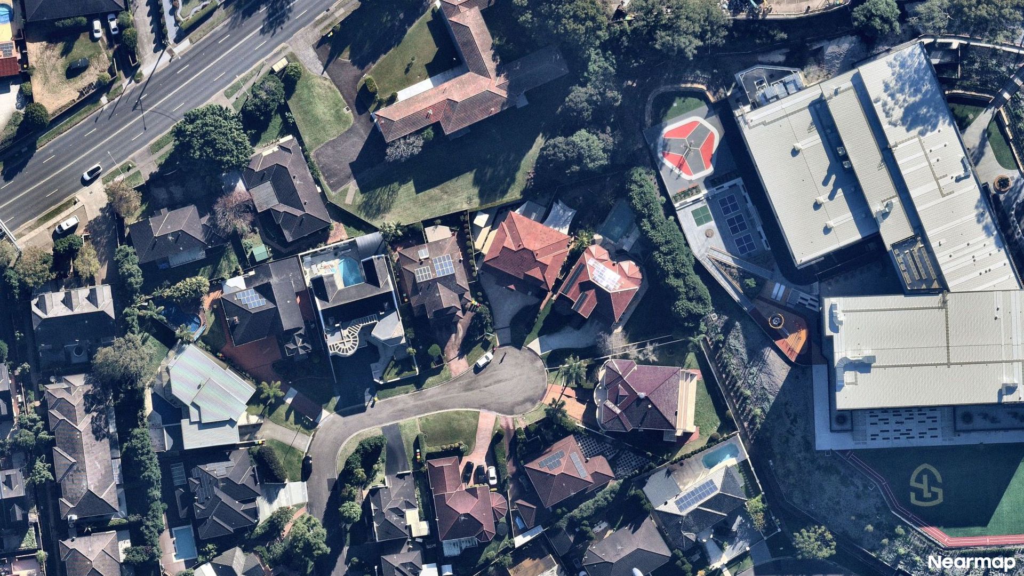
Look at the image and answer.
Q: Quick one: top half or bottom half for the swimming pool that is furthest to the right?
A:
bottom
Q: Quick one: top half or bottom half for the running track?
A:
bottom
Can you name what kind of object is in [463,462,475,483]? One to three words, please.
vehicle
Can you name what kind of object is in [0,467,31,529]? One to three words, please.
house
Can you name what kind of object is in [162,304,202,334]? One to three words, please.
swimming pool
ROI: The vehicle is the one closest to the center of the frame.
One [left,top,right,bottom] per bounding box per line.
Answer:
[474,352,494,368]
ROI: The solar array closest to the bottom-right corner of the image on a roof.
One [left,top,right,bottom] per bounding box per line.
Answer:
[675,480,717,512]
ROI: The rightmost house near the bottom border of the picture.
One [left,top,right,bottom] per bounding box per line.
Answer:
[643,464,749,553]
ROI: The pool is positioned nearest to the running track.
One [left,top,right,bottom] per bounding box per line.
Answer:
[701,442,741,470]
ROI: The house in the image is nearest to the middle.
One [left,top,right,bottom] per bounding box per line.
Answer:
[484,210,570,297]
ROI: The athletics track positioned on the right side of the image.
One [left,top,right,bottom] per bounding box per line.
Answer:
[837,451,1024,547]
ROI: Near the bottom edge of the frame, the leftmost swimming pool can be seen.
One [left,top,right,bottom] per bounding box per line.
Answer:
[174,526,196,561]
